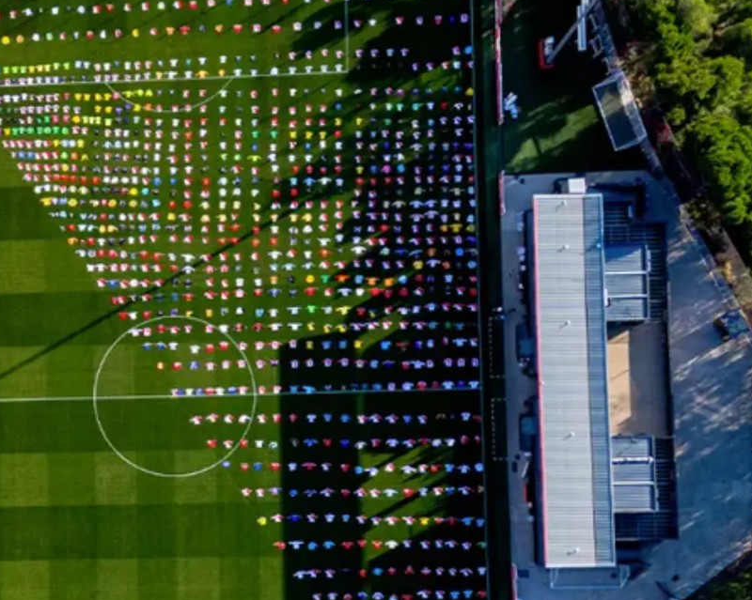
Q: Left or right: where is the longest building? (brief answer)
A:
right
